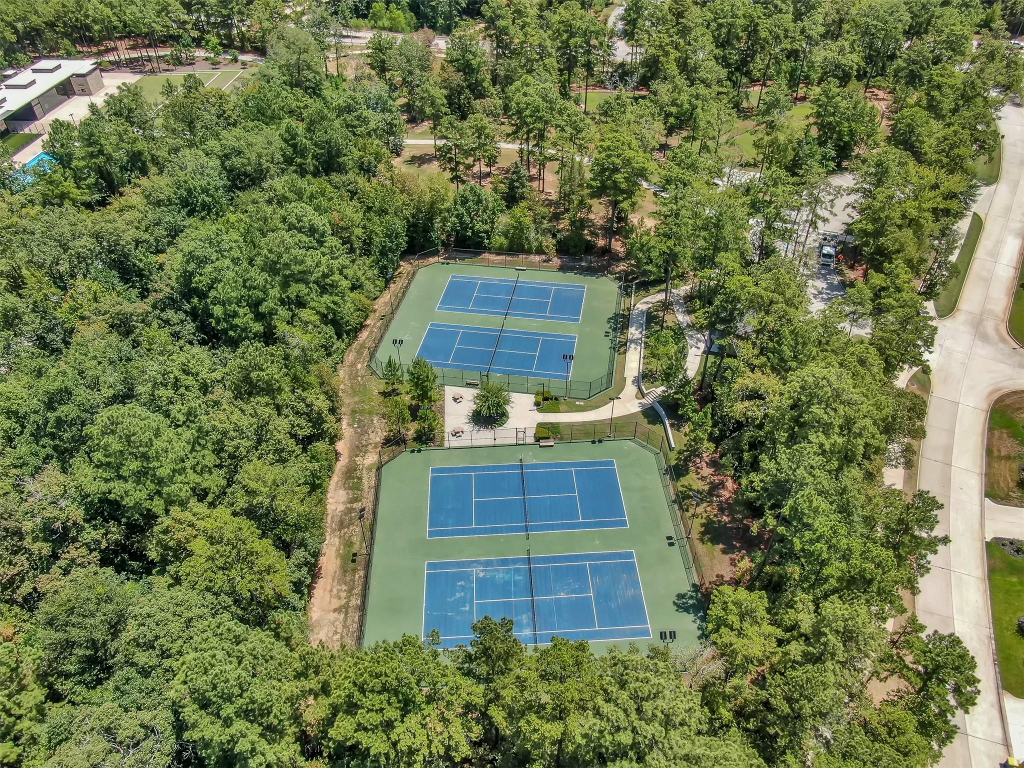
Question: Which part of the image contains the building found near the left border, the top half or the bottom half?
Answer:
top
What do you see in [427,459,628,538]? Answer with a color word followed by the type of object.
blue tennis court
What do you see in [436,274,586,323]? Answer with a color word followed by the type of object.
blue tennis court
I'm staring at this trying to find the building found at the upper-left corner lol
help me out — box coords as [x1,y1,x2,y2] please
[0,56,108,140]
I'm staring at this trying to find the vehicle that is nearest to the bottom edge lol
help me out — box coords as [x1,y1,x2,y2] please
[821,230,842,260]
